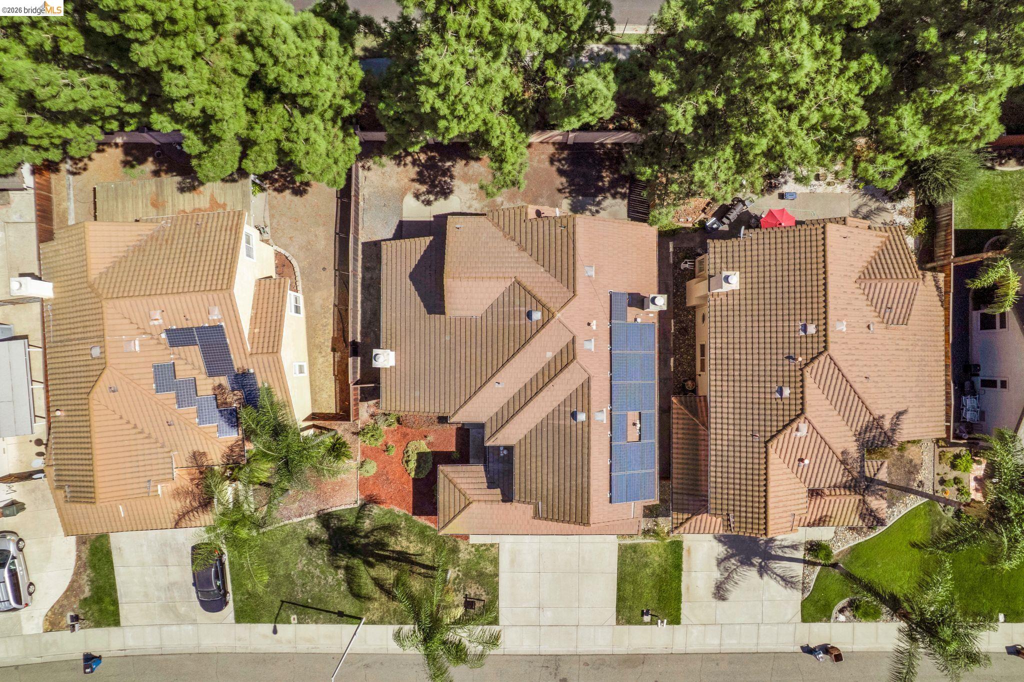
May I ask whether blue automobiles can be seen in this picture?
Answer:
No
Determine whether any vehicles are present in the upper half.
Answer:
No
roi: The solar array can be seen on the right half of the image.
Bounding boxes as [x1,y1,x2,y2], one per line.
[607,292,655,503]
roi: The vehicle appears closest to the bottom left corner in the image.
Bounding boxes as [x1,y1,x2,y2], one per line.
[0,533,34,612]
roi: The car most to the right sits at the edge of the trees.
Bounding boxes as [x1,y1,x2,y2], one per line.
[190,544,229,614]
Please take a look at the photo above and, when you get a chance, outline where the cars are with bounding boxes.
[0,533,34,612]
[190,544,229,614]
